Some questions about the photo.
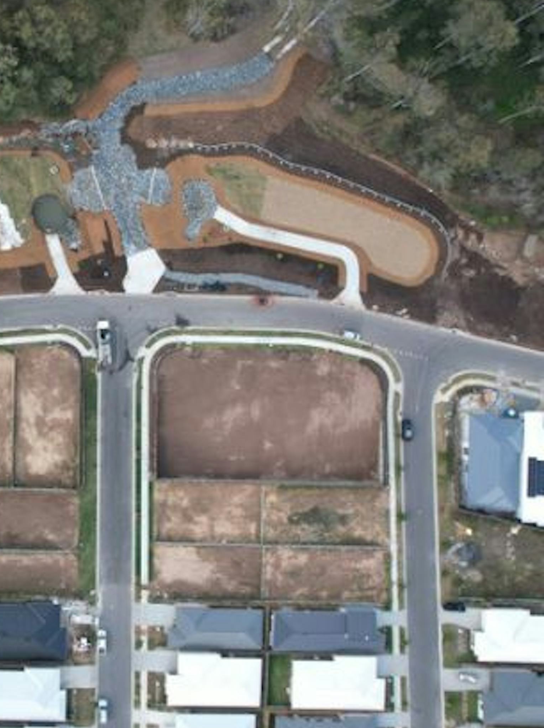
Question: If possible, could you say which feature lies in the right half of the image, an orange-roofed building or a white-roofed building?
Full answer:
You can see a white-roofed building in the right half of the image.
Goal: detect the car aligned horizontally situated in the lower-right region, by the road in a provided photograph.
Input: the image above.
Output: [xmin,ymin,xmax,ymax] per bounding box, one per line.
[444,602,471,615]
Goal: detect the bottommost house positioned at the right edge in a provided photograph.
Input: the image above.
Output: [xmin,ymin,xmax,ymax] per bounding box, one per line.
[476,669,544,727]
